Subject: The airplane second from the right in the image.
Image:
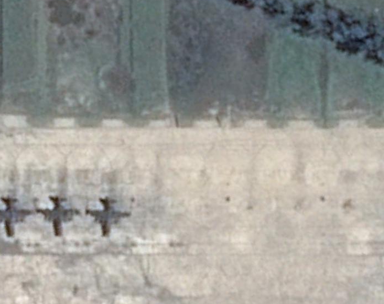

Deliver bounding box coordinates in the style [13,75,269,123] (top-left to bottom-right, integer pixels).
[39,196,79,235]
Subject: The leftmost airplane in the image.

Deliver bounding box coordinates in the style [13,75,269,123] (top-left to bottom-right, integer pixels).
[0,198,32,239]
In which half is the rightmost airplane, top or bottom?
bottom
